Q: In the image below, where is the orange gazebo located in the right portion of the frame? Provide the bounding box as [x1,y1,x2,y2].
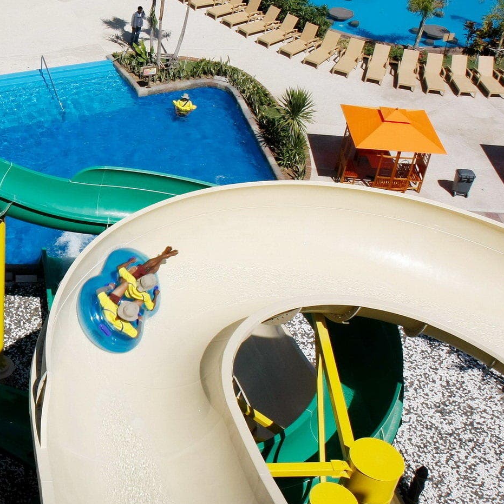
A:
[334,98,447,202]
